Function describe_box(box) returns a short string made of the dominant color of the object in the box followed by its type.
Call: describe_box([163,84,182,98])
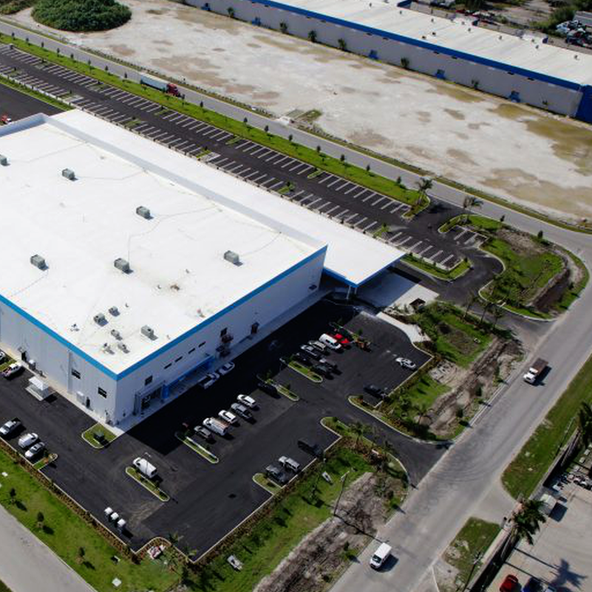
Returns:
red vehicle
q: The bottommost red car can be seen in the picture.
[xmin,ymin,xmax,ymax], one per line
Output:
[497,572,520,592]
